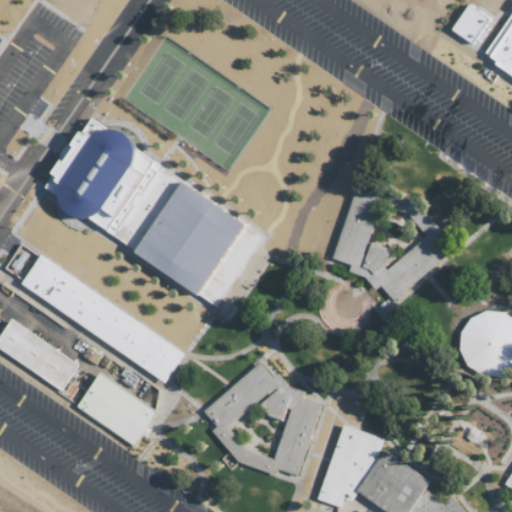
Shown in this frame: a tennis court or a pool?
tennis court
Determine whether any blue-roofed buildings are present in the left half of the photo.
Yes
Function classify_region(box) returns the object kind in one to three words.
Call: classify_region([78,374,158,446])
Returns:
building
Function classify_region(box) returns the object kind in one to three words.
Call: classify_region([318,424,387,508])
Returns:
building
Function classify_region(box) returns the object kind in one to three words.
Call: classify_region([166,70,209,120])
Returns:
tennis court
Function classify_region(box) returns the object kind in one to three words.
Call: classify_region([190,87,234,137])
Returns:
tennis court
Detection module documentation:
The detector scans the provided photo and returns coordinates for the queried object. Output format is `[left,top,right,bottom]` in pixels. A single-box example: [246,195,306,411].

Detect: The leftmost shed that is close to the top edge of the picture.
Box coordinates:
[452,4,492,44]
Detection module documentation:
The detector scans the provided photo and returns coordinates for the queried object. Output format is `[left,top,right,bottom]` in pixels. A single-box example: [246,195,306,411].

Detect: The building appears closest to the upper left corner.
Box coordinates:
[44,118,136,219]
